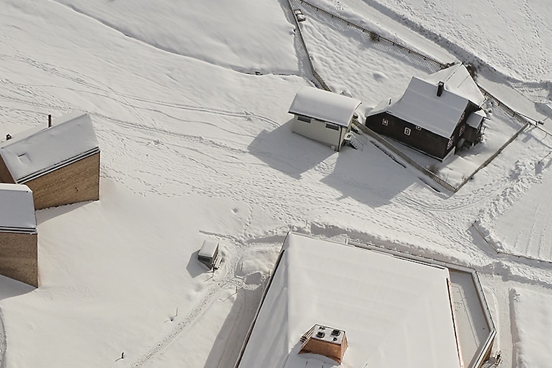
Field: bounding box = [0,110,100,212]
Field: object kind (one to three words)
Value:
house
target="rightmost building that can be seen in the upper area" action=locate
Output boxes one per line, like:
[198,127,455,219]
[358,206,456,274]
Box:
[362,60,489,163]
